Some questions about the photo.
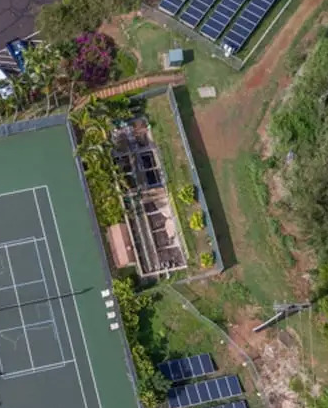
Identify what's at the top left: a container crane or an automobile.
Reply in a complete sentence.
Looking at the top left, you will find an automobile.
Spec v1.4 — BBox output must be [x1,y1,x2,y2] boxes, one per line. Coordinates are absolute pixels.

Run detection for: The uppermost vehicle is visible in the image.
[4,33,31,73]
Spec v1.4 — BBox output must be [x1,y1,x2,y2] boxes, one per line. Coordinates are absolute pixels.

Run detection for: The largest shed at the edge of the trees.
[106,224,135,269]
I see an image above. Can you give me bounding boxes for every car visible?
[0,70,13,100]
[4,33,31,73]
